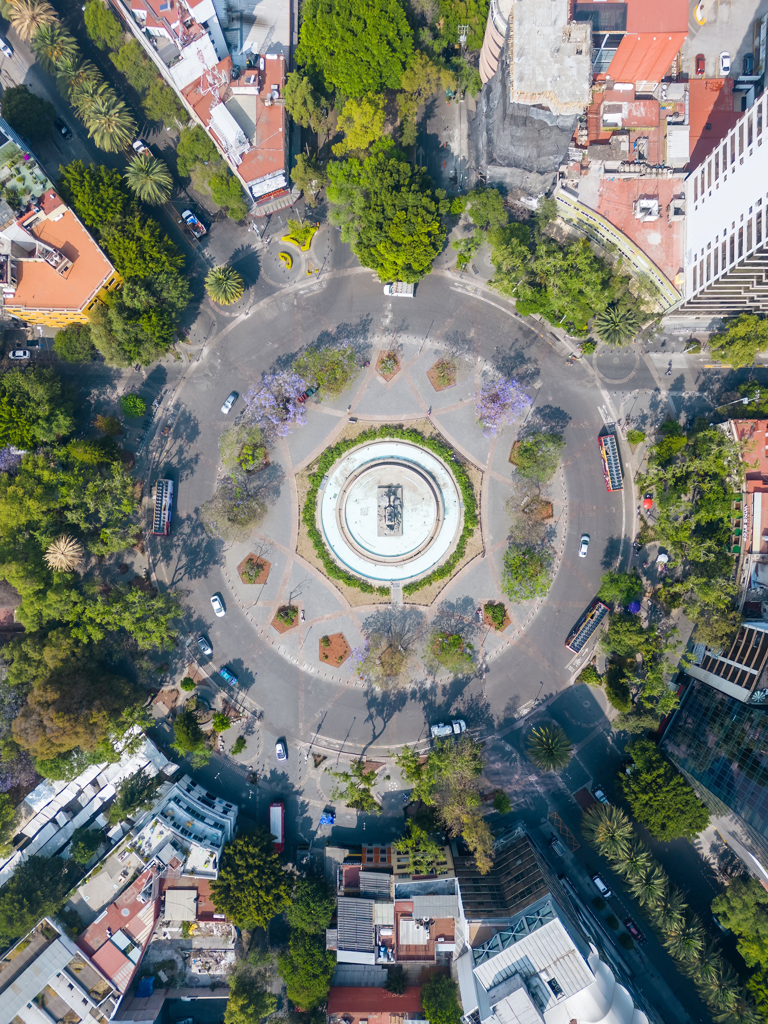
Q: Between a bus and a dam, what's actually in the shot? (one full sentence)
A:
This aerial view contains a bus.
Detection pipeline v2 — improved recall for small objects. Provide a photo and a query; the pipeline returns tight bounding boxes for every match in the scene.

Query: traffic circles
[140,263,641,764]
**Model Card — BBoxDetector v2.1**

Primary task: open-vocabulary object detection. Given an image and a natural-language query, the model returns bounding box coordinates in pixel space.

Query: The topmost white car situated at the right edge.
[718,52,731,76]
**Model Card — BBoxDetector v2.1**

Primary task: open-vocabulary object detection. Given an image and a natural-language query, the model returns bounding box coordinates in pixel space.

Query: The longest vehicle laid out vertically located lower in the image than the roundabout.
[270,796,286,850]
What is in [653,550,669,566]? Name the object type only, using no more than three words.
umbrella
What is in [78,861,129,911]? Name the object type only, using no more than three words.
house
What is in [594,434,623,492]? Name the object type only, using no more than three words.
bus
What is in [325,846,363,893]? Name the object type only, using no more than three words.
building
